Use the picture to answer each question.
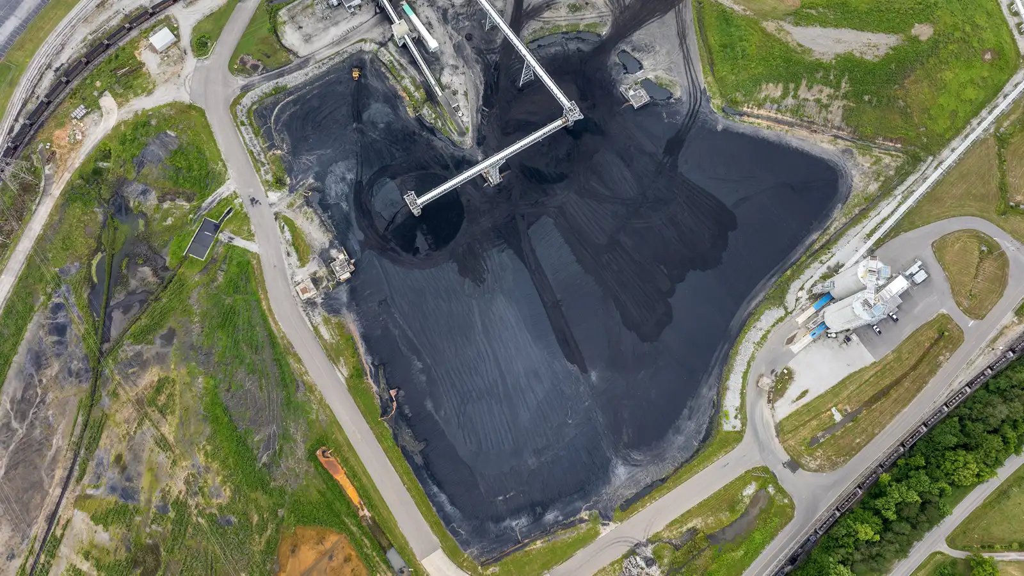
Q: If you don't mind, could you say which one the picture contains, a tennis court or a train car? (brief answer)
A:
train car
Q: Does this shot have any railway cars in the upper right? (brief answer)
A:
No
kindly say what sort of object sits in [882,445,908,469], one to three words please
rail car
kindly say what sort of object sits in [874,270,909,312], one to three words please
building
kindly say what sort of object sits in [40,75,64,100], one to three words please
rail car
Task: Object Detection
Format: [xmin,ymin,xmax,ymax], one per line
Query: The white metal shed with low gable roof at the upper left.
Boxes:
[149,26,178,55]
